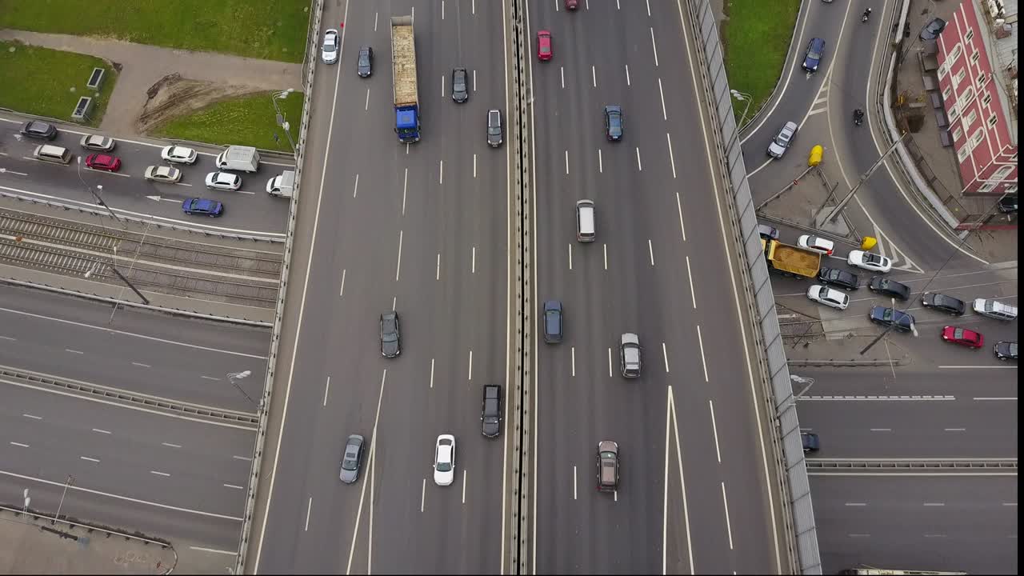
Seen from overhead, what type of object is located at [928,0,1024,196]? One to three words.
building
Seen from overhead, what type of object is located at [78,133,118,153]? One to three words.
car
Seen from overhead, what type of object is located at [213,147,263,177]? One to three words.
van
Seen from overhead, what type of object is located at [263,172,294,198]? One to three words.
vehicle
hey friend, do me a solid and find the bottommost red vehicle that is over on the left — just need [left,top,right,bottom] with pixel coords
[83,152,124,173]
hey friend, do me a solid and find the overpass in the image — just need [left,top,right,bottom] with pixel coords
[249,0,804,576]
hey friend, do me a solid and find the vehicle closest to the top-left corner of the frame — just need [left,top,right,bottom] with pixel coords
[19,119,59,140]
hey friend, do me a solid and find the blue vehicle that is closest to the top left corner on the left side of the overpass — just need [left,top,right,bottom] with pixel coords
[181,196,225,218]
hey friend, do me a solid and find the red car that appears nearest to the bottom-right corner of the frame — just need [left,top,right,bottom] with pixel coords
[940,324,986,348]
